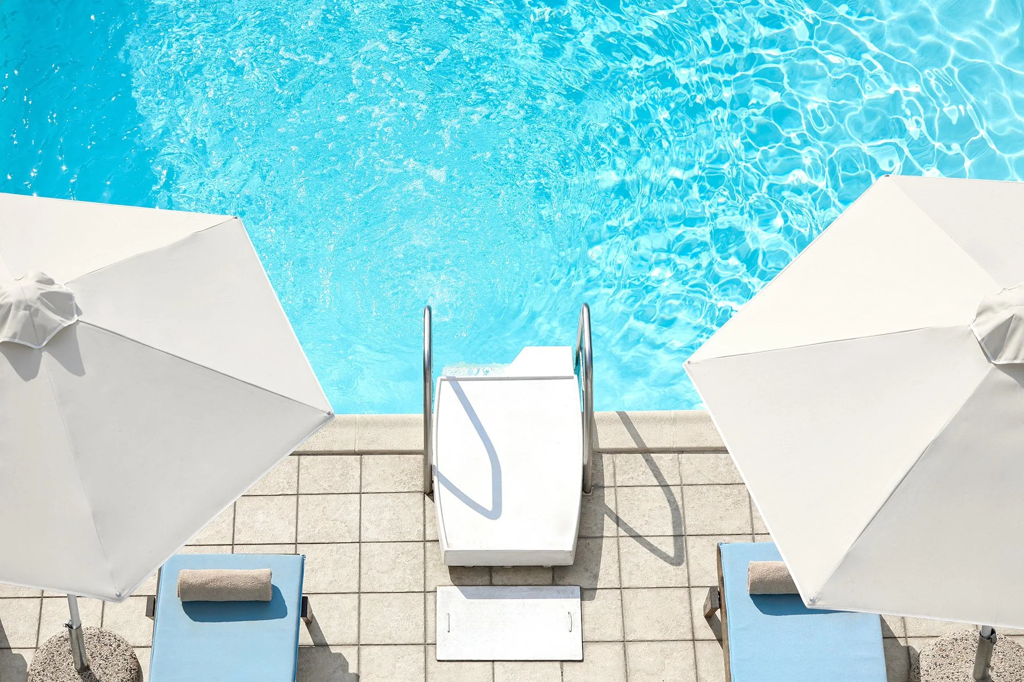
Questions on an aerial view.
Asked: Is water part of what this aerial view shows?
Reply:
Yes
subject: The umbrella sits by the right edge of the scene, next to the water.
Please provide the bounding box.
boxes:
[685,175,1024,682]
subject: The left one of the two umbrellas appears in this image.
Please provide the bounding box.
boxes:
[0,197,334,682]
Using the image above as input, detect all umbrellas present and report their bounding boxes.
[0,197,334,682]
[685,175,1024,682]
